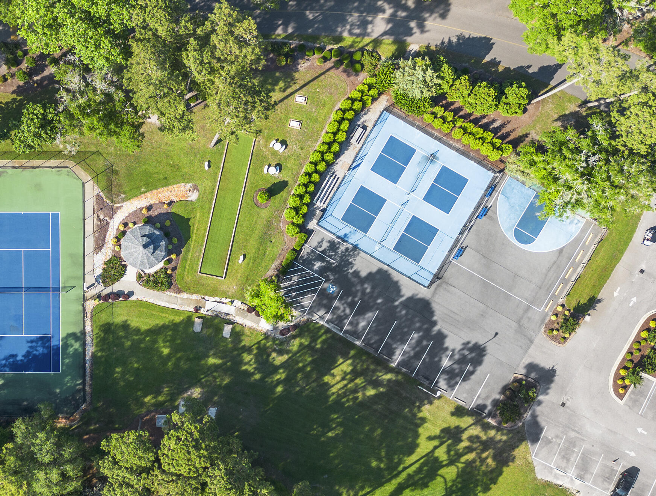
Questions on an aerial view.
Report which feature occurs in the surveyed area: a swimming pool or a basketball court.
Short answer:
basketball court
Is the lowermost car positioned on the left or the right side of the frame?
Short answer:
right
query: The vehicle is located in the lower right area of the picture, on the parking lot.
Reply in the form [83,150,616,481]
[611,473,636,496]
